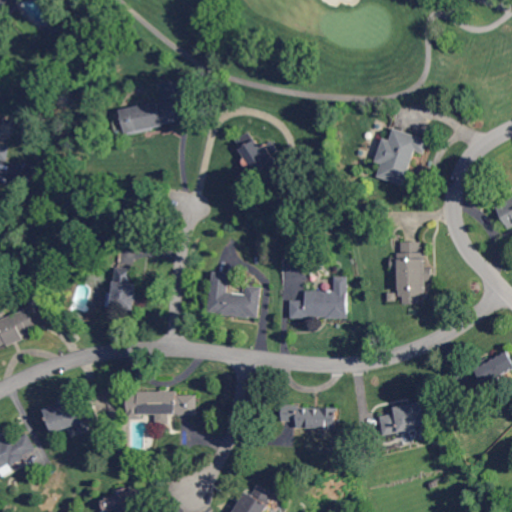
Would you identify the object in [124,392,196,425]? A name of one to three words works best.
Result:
house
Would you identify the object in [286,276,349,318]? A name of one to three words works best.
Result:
house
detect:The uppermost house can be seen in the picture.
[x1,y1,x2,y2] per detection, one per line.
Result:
[118,105,160,135]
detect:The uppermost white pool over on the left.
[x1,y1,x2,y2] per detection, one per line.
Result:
[71,284,92,312]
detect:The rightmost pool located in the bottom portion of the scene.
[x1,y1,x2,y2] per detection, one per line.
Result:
[130,416,154,452]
